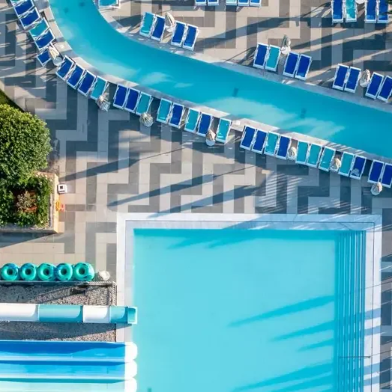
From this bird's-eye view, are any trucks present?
No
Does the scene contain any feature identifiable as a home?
No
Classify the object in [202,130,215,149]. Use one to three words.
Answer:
umbrella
